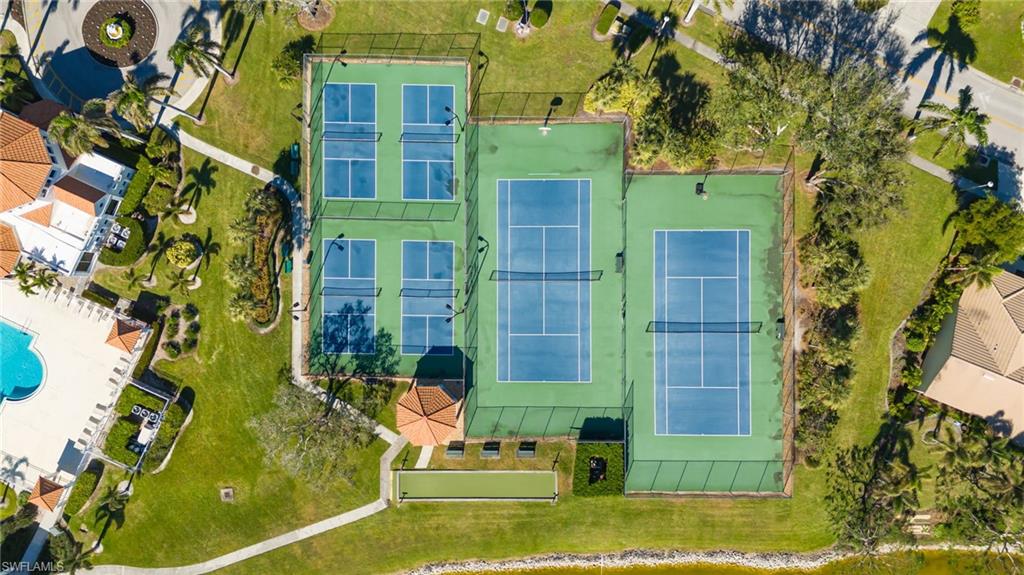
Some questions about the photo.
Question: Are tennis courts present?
Yes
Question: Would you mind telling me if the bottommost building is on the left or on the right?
left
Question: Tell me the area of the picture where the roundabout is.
top left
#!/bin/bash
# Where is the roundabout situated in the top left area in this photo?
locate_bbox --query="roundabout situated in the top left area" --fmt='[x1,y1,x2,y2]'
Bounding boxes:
[82,0,159,67]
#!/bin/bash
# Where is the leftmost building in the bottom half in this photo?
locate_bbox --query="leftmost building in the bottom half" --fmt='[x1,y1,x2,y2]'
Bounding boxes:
[28,471,79,512]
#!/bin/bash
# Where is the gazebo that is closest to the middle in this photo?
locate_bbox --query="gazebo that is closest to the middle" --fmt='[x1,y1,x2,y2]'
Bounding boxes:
[397,386,456,445]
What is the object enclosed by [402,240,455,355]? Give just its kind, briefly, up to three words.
sports court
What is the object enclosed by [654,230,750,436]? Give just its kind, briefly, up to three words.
tennis court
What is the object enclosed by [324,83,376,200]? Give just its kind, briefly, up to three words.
sports court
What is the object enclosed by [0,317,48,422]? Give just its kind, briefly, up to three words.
swimming pool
